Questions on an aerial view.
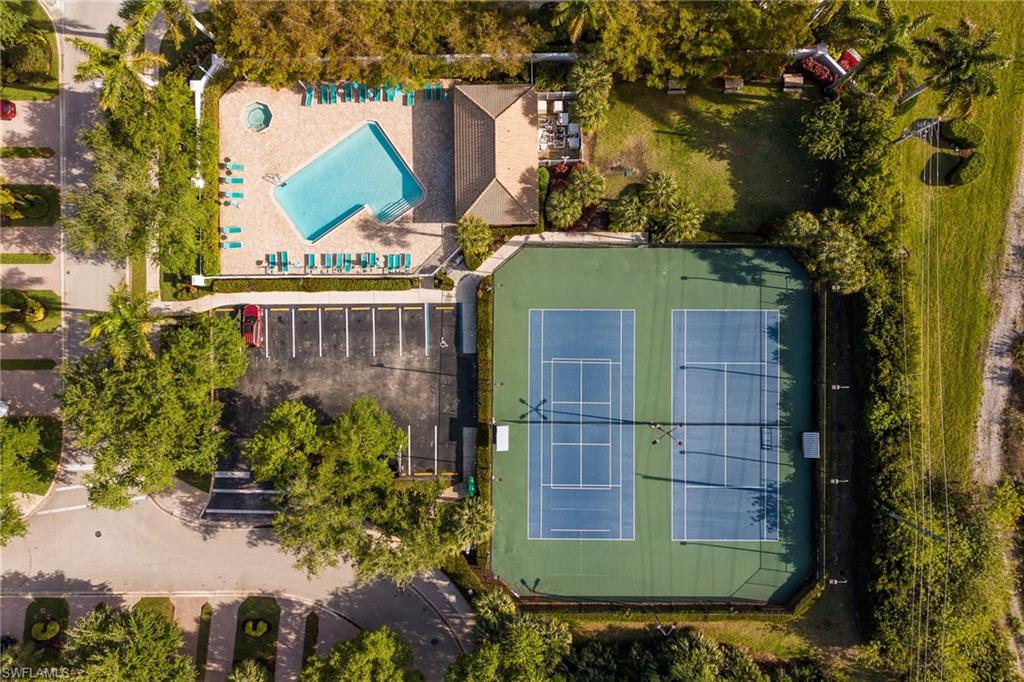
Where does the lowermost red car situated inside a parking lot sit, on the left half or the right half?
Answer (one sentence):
The lowermost red car situated inside a parking lot sits on the left side.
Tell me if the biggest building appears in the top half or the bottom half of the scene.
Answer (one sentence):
Seen from above, the biggest building lies in the top half of the view.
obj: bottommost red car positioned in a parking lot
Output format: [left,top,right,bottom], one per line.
[239,304,264,346]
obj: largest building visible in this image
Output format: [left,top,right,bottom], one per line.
[454,84,539,225]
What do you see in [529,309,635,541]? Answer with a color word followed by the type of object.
blue tennis court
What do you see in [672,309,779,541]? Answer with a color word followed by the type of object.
blue tennis court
